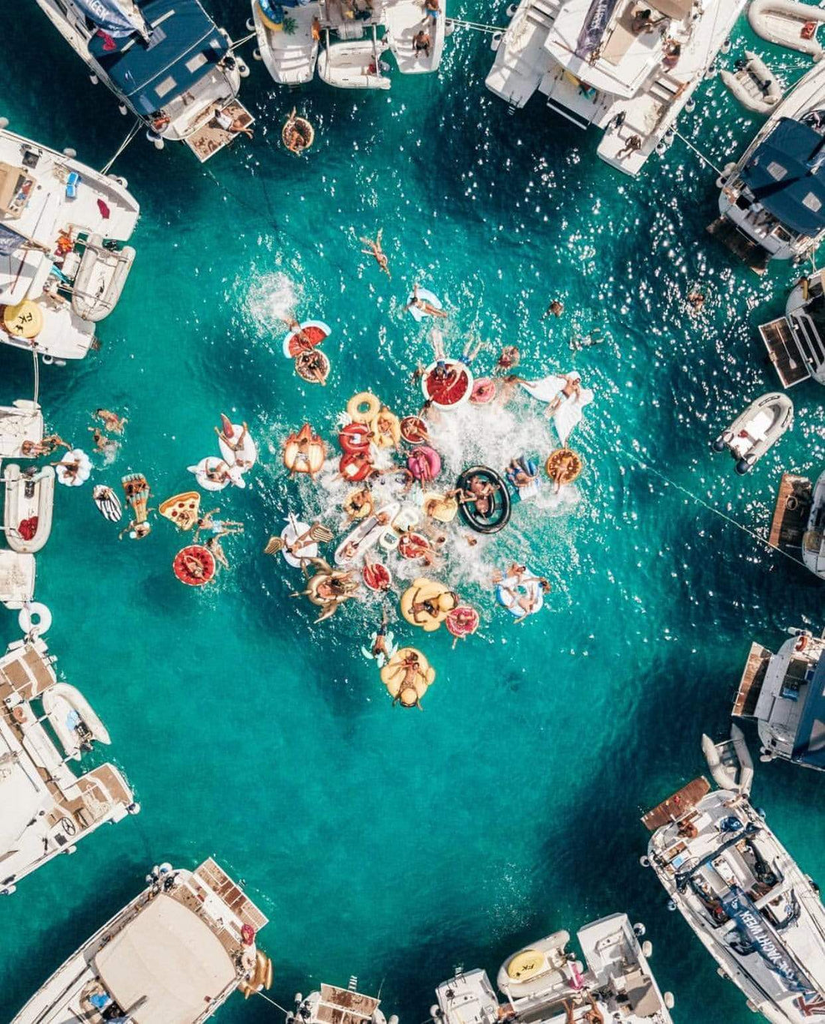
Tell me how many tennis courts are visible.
none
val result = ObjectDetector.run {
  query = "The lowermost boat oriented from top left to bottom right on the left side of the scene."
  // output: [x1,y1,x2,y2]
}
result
[34,685,110,769]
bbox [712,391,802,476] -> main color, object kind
white boat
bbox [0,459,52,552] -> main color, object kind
white boat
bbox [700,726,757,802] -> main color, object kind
gray boat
